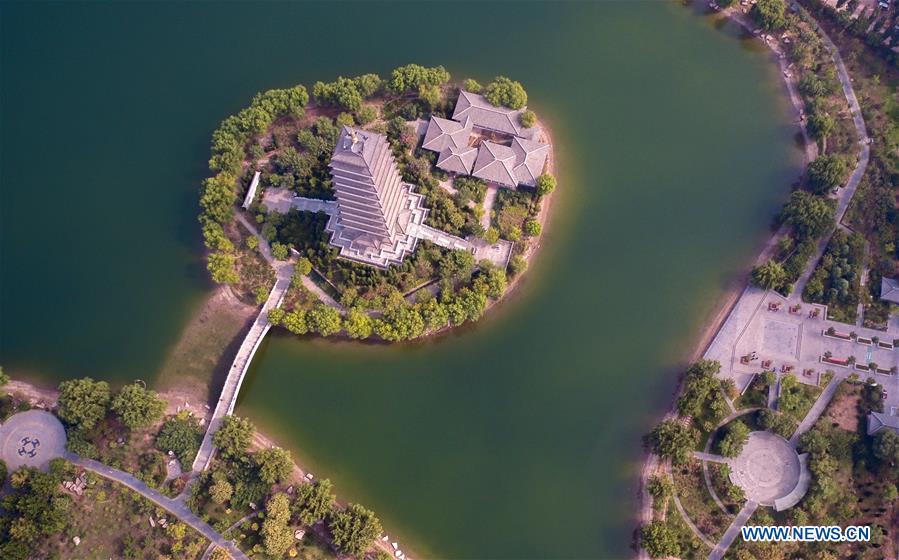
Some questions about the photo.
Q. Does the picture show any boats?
No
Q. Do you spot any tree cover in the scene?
Yes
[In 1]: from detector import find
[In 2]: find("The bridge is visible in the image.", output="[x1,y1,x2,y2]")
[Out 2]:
[187,267,292,484]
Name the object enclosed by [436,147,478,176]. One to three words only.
building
